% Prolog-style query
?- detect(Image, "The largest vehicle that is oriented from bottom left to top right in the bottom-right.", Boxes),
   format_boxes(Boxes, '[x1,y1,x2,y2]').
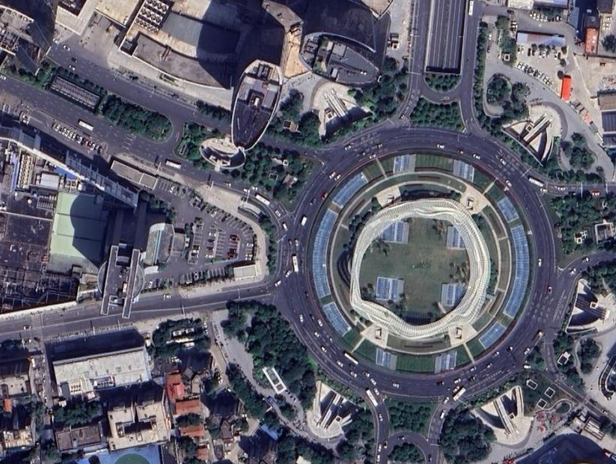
[451,387,466,404]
